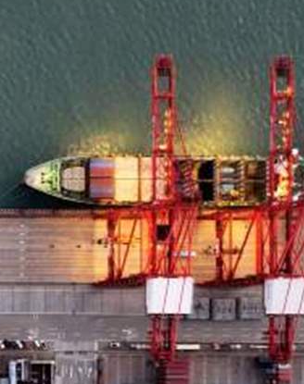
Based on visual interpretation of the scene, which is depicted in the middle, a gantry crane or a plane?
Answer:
gantry crane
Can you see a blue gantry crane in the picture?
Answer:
No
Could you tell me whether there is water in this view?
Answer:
Yes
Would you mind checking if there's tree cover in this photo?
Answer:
No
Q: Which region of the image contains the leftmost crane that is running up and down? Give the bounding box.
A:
[93,55,213,359]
